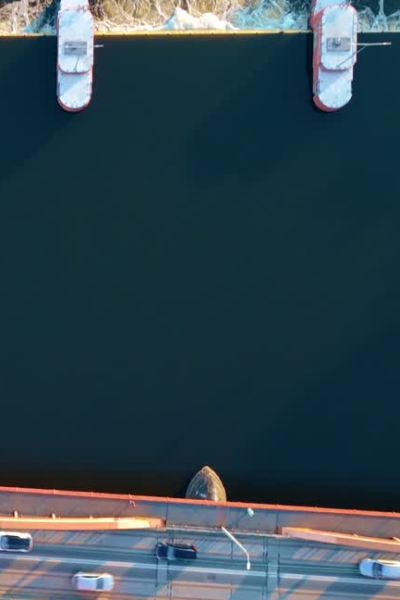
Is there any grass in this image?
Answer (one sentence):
No, the picture contains no grass.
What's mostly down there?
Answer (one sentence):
For the most part, this view shows water.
